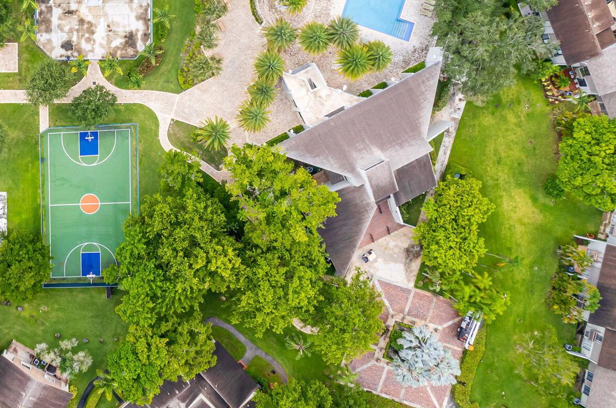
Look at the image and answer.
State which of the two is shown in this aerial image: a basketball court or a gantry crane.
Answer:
basketball court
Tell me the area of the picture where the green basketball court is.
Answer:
left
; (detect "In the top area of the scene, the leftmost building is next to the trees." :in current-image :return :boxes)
[272,48,452,269]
